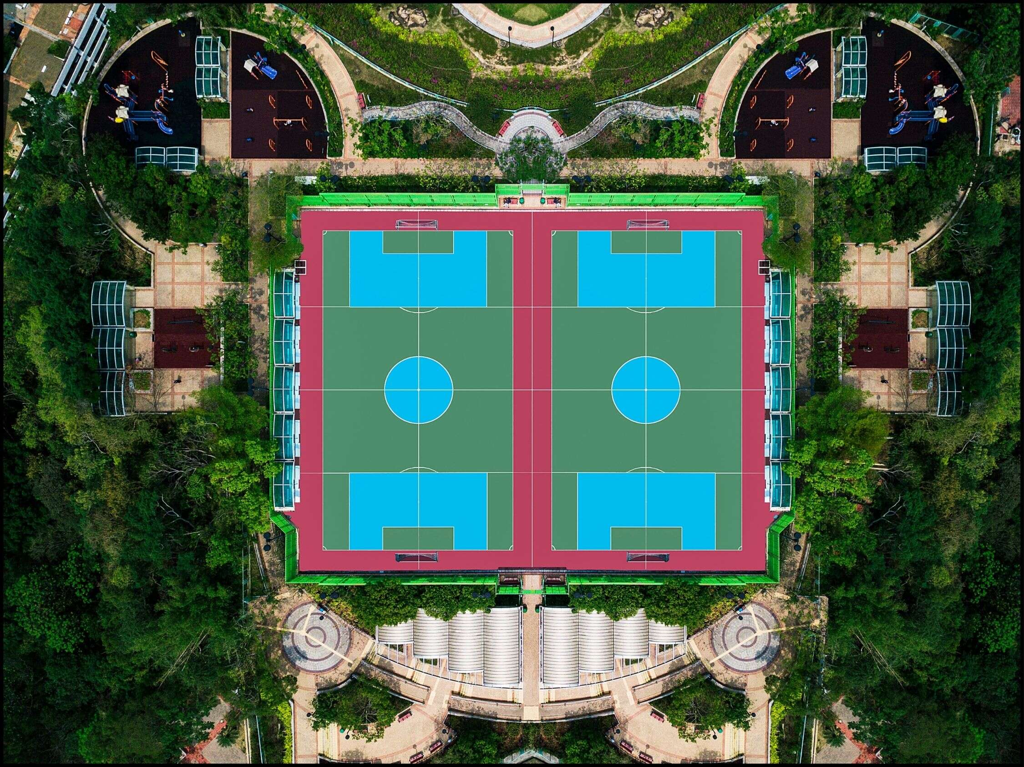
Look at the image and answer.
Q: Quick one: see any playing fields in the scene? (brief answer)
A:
Yes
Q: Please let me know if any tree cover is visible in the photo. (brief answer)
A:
Yes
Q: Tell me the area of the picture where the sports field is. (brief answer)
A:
center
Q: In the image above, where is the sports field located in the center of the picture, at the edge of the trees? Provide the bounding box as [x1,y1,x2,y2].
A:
[323,231,742,550]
